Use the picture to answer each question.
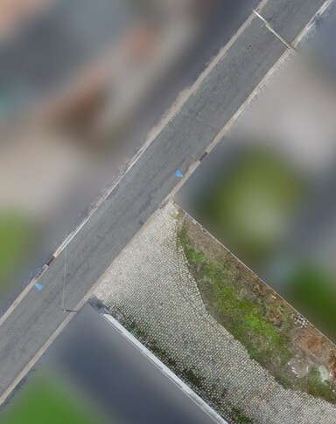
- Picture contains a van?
No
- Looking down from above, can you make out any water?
No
